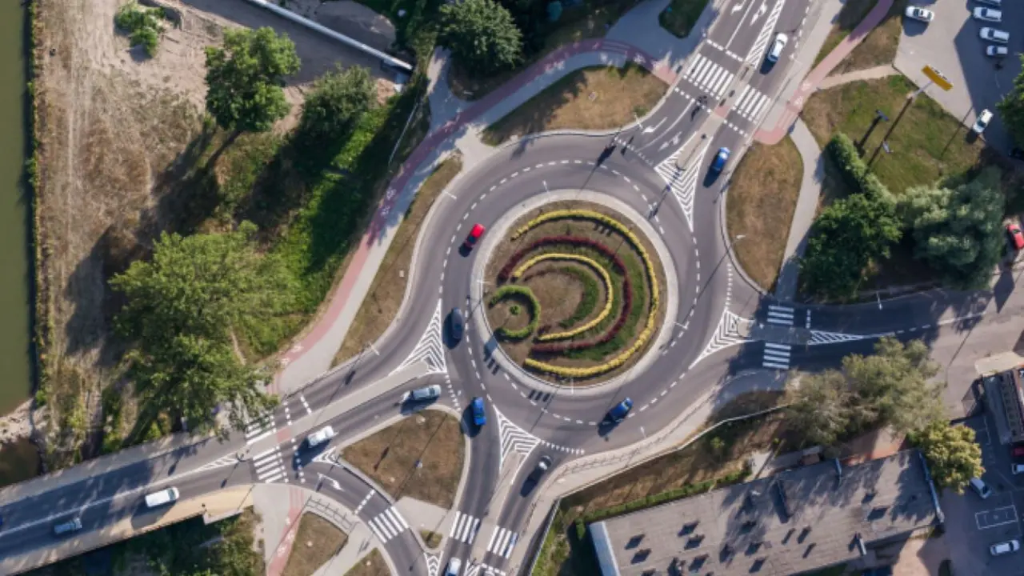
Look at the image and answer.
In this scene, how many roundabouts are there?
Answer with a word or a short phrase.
1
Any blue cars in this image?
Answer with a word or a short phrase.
Yes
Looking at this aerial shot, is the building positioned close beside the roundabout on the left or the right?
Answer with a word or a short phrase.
right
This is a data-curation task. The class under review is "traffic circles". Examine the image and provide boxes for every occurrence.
[410,133,740,458]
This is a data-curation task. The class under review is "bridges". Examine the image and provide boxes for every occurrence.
[0,411,254,576]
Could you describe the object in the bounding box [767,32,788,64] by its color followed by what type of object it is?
white car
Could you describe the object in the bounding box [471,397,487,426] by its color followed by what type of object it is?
blue car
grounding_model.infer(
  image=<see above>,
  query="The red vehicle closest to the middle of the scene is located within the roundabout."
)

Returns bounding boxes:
[464,222,485,250]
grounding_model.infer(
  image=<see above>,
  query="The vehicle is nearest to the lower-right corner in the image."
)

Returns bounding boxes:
[988,538,1021,556]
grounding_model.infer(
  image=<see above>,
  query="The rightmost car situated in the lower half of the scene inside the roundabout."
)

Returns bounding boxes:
[609,396,635,425]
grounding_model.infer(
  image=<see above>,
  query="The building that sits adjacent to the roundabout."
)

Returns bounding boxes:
[590,448,947,576]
